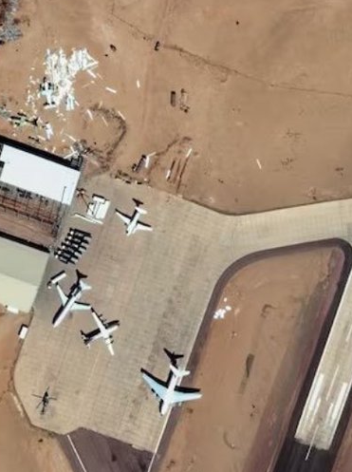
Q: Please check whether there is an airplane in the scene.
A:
Yes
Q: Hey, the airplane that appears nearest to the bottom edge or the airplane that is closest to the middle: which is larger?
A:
the airplane that appears nearest to the bottom edge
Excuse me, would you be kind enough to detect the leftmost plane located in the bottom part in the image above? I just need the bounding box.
[53,281,91,327]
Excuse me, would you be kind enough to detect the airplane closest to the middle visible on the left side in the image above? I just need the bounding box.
[115,206,153,235]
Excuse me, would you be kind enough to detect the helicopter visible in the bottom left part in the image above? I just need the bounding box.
[33,389,57,415]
